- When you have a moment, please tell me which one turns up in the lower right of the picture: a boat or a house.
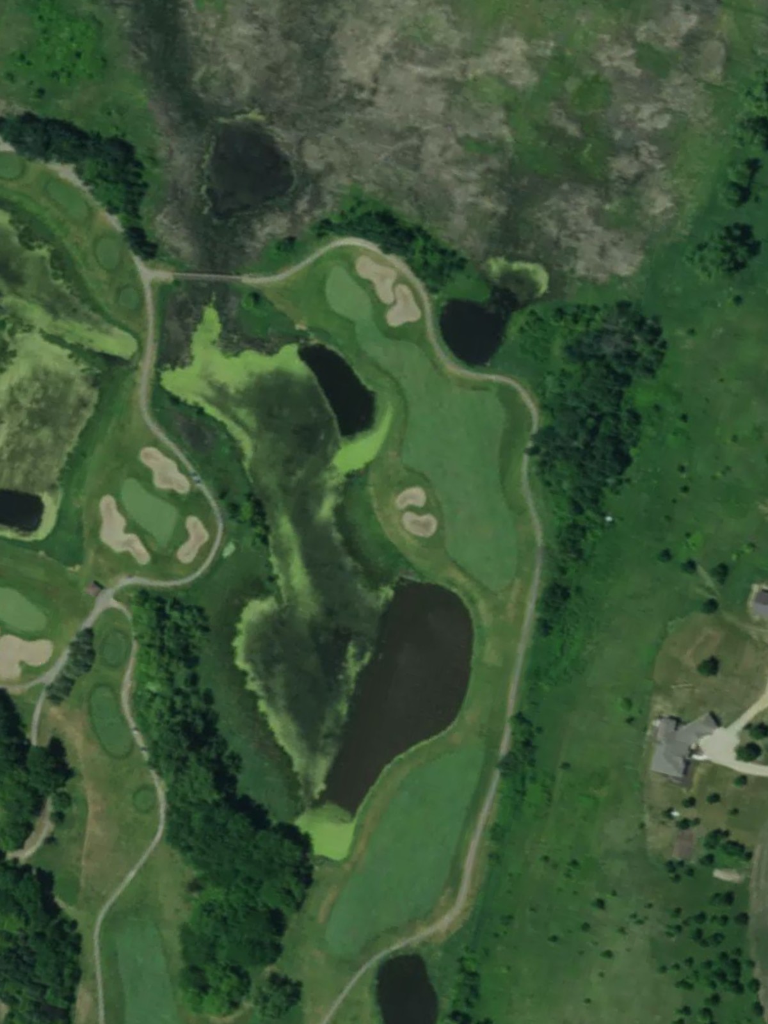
house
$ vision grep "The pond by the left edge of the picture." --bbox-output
[0,448,74,542]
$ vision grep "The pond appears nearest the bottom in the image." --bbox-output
[377,954,438,1024]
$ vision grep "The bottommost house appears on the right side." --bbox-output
[650,714,717,787]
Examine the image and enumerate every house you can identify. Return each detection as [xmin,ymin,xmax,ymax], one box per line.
[650,714,717,787]
[752,589,768,619]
